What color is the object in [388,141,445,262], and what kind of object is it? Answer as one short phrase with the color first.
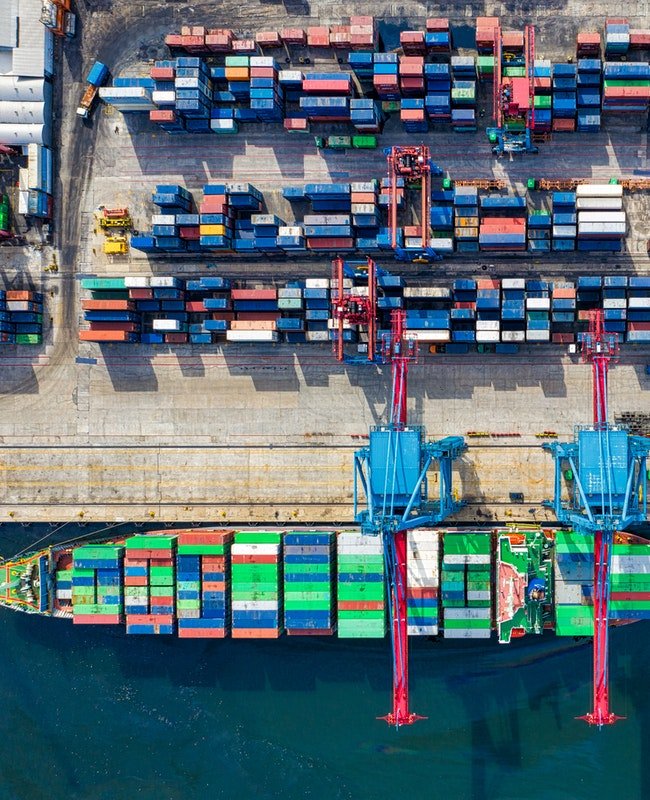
red container crane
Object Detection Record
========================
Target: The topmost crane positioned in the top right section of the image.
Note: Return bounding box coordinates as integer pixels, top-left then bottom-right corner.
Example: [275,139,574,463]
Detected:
[489,23,541,152]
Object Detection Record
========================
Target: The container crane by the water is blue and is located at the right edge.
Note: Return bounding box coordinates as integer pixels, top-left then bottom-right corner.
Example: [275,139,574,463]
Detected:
[541,308,650,729]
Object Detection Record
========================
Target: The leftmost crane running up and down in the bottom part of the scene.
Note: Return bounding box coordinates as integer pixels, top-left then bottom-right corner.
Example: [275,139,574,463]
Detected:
[350,307,468,728]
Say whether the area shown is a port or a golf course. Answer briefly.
port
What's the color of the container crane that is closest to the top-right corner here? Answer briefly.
red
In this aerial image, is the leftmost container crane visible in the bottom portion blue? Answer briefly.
Yes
